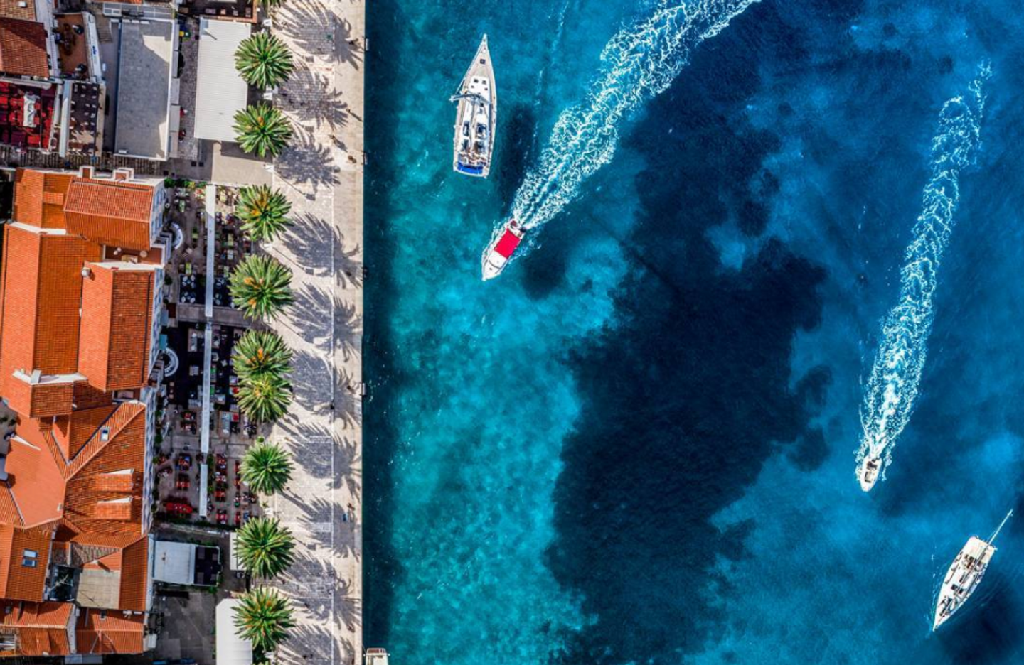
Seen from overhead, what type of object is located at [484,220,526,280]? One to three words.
boat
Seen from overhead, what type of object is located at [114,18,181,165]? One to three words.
building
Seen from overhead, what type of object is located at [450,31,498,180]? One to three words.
boat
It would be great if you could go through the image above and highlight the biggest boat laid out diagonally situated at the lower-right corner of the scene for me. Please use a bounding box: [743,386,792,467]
[930,503,1006,631]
